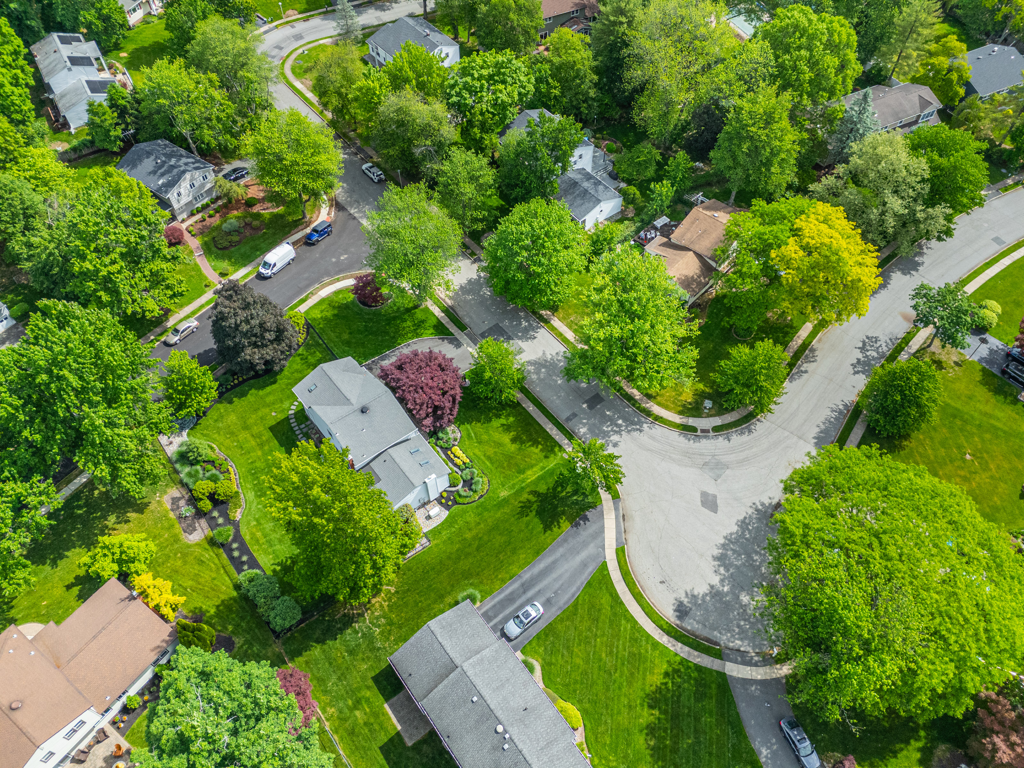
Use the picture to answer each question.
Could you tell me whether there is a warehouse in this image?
No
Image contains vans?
Yes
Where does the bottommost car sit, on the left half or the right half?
right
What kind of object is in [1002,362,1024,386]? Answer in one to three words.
car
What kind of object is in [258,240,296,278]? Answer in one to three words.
van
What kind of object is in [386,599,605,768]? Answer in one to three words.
house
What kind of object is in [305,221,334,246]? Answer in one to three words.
car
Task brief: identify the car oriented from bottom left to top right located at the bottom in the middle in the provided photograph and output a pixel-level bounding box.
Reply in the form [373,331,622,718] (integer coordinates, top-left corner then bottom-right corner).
[502,602,545,642]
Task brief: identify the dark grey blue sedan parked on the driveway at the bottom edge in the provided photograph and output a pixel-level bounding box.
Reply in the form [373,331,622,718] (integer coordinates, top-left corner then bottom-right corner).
[780,718,822,768]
